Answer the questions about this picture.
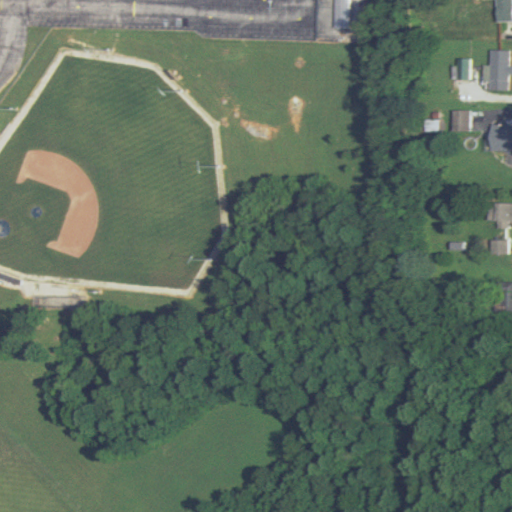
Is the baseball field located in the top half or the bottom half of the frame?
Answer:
top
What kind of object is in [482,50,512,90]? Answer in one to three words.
house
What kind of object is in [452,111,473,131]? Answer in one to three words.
building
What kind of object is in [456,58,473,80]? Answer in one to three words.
barn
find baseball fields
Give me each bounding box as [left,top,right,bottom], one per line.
[0,48,229,296]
